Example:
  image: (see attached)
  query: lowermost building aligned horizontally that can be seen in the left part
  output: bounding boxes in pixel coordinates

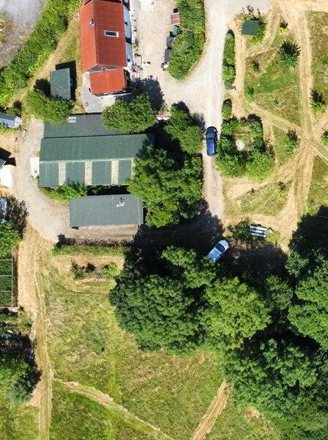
[69,195,148,227]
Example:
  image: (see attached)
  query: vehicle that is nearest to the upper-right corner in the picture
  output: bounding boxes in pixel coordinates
[204,126,220,156]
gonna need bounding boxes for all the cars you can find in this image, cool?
[204,126,220,156]
[204,238,230,265]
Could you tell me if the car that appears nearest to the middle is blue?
Yes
